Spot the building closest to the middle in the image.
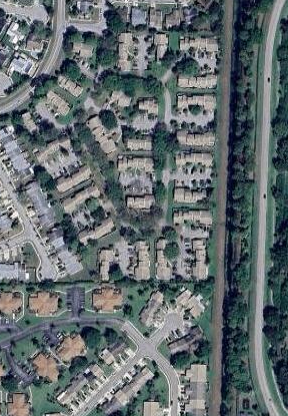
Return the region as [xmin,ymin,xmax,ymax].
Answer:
[127,194,153,210]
